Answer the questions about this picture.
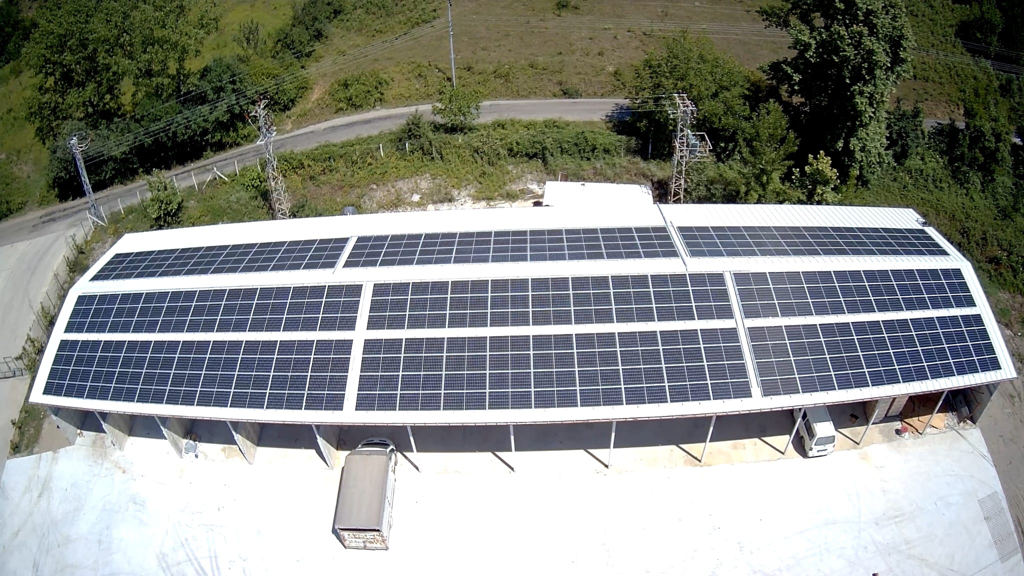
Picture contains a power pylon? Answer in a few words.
Yes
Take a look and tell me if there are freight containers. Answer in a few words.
No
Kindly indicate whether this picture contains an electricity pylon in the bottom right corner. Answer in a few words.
No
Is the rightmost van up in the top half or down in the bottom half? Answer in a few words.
bottom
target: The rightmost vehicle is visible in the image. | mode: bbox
[790,411,837,458]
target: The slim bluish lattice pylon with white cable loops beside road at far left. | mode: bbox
[69,129,99,226]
